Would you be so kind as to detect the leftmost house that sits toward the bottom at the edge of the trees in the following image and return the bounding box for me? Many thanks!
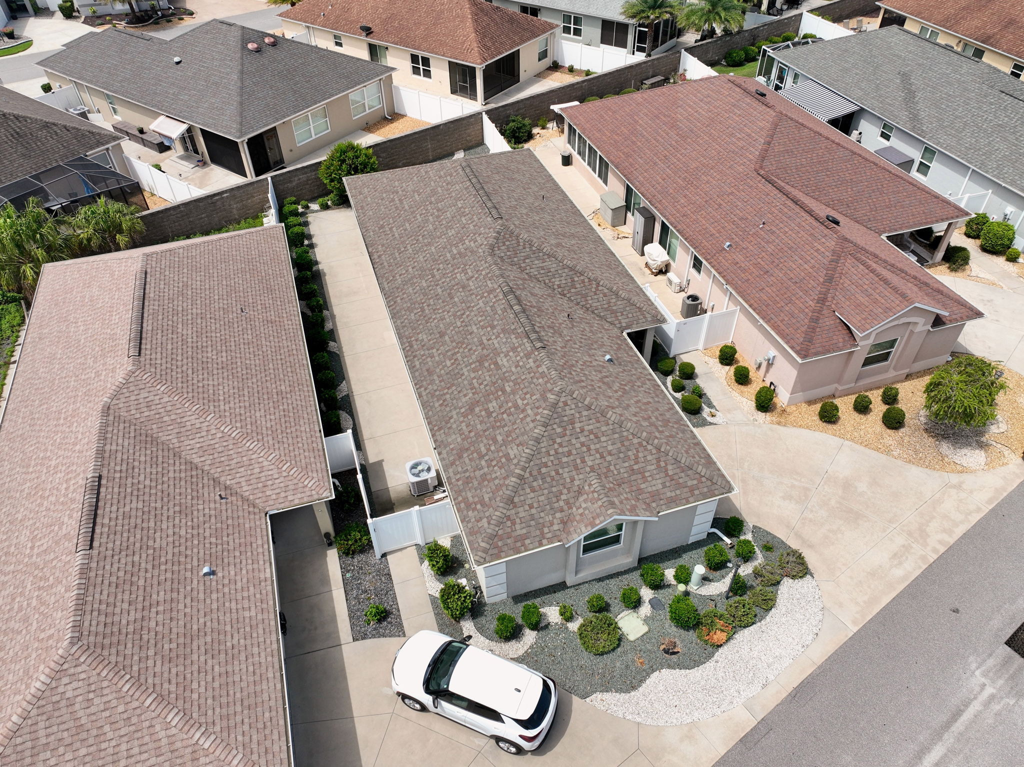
[0,224,341,767]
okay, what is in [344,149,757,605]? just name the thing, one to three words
house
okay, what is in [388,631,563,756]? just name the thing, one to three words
car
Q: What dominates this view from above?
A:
buildings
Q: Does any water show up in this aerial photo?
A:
No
